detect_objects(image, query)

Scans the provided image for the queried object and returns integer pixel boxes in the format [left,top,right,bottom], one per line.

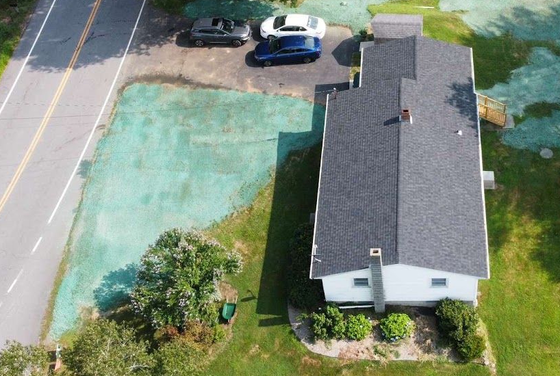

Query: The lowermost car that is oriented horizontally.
[252,35,321,67]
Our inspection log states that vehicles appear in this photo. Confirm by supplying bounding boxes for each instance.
[184,15,252,49]
[257,11,326,40]
[252,35,321,67]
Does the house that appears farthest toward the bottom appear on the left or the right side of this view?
right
